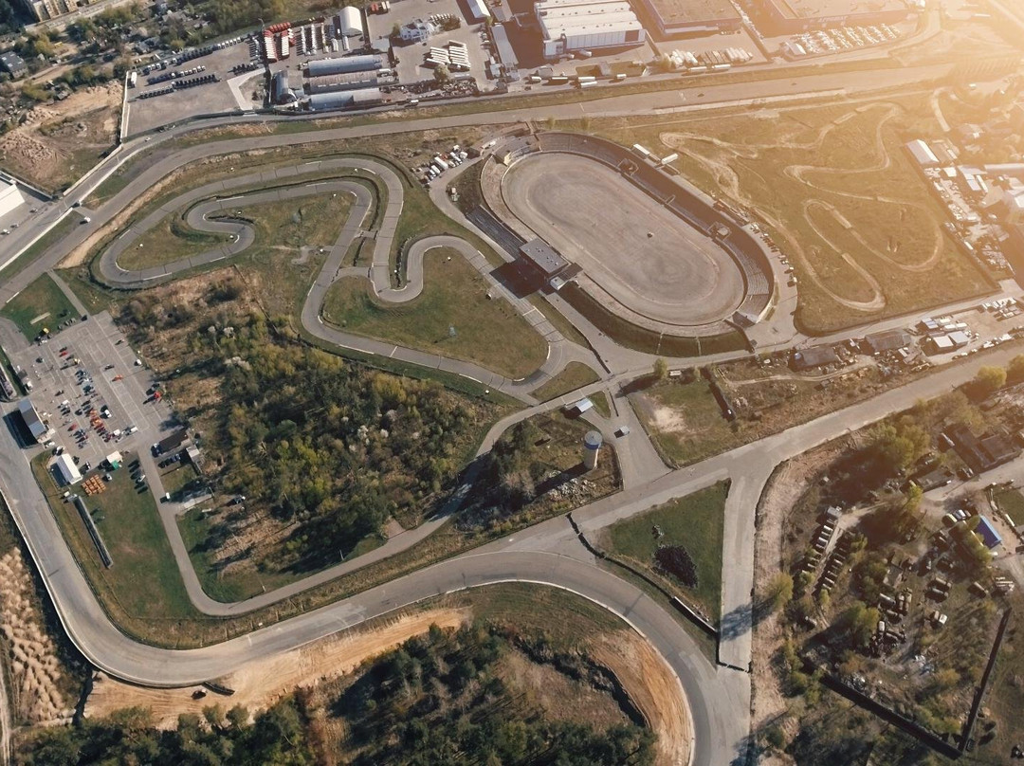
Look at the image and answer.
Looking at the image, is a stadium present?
Yes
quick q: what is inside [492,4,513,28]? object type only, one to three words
building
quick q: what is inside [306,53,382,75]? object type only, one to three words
hangar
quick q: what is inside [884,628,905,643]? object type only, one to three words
vehicle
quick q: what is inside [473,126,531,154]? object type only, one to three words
shed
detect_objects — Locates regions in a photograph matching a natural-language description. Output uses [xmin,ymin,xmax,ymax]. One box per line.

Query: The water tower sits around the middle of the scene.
[583,427,603,470]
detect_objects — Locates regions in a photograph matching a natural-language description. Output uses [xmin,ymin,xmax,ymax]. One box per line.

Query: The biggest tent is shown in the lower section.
[54,452,82,485]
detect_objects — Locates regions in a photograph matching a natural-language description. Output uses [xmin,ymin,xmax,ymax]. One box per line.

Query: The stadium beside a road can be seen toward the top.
[454,129,778,354]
